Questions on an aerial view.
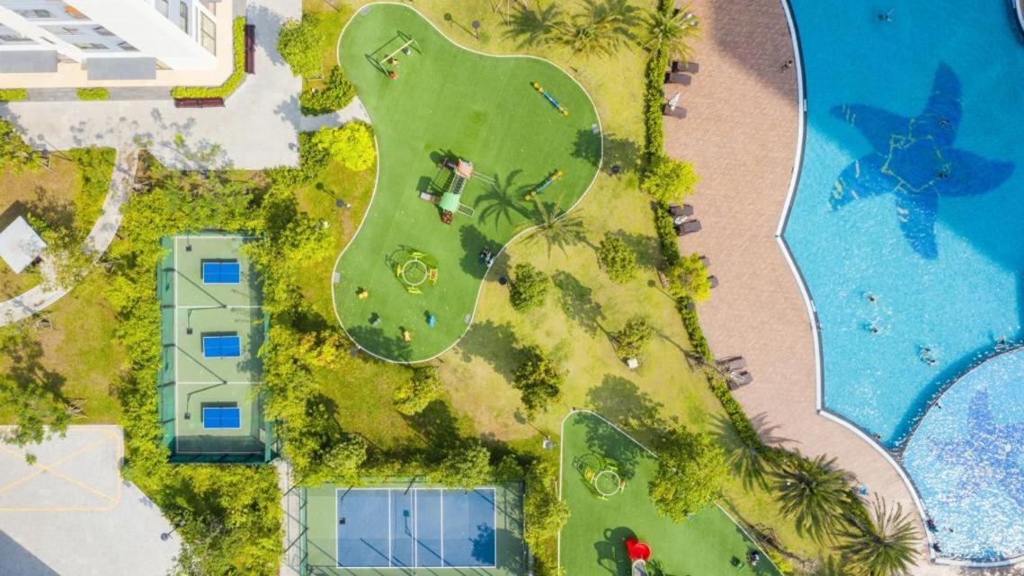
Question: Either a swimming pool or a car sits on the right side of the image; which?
swimming pool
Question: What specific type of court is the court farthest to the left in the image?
tennis court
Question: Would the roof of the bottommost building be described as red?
No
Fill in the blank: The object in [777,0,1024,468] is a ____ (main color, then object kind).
blue swimming pool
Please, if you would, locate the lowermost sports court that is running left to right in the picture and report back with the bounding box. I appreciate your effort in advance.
[299,473,524,576]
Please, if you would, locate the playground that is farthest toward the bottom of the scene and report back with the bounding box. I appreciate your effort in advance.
[557,410,782,576]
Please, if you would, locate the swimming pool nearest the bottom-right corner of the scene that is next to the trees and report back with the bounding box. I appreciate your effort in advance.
[892,338,1024,569]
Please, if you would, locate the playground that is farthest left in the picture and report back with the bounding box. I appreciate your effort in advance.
[331,1,604,364]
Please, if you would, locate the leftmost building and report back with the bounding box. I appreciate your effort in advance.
[0,216,62,273]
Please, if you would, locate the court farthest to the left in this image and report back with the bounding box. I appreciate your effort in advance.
[174,232,272,454]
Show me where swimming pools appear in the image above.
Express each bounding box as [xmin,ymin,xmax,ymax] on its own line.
[892,338,1024,569]
[777,0,1024,468]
